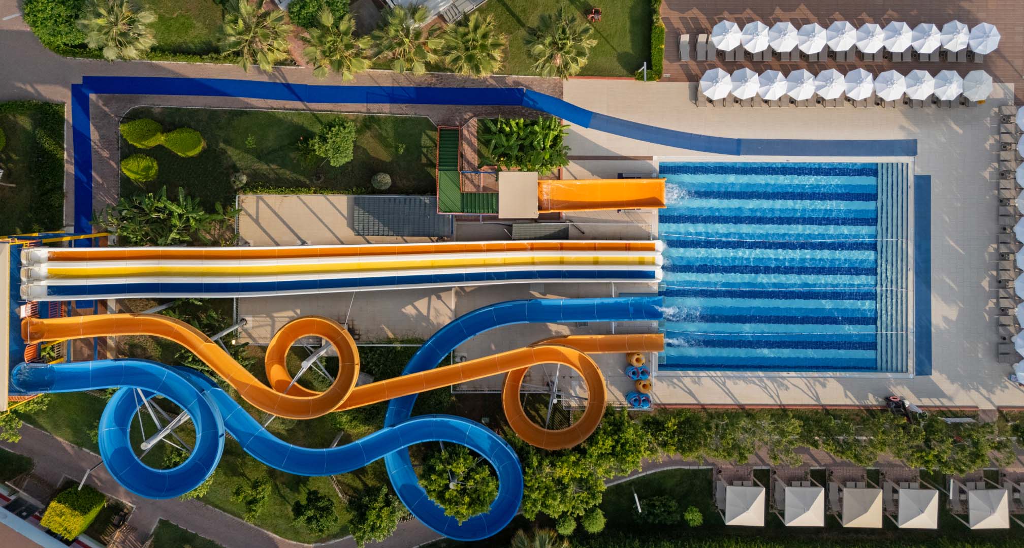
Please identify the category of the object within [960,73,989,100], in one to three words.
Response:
umbrella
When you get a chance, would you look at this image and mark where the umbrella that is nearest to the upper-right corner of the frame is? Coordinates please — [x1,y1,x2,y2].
[967,24,998,54]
